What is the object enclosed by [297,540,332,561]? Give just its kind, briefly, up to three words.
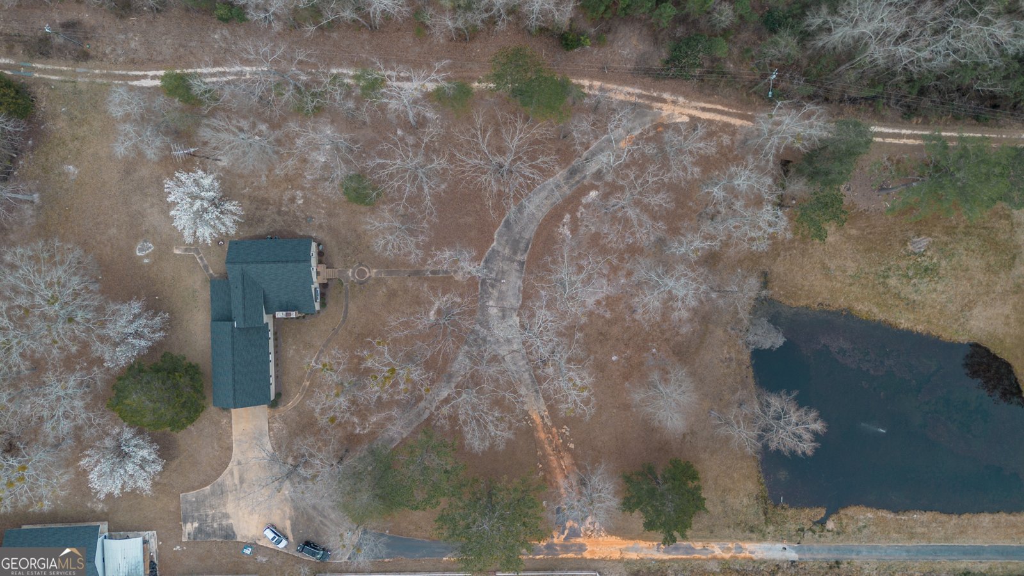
car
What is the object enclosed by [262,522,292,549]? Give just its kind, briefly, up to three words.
car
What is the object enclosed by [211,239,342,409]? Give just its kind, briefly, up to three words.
house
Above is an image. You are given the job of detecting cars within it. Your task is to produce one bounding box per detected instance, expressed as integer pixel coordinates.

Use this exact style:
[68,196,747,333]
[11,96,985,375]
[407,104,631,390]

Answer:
[297,540,332,561]
[262,522,292,549]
